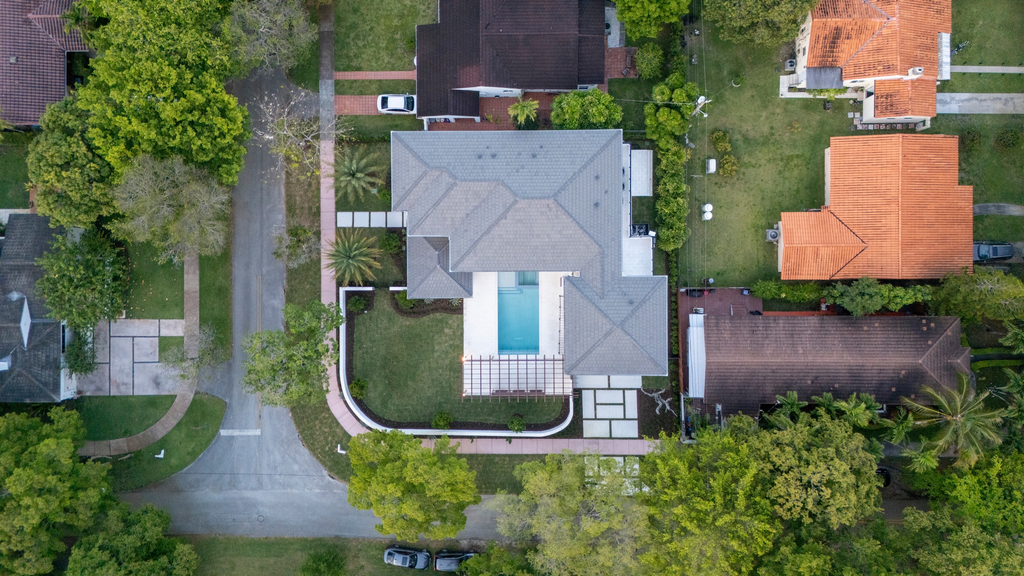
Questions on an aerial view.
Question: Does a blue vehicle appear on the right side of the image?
Yes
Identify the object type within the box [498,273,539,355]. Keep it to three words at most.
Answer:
swimming pool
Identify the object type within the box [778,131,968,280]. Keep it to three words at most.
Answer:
house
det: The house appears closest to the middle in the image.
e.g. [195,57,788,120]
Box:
[390,128,668,377]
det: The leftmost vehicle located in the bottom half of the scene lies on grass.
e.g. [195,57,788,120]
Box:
[383,545,428,571]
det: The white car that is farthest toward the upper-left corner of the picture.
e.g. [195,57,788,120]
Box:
[375,92,415,114]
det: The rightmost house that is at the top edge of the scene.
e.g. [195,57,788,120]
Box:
[786,0,961,132]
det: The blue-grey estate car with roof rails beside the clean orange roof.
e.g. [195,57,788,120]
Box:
[967,241,1016,263]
